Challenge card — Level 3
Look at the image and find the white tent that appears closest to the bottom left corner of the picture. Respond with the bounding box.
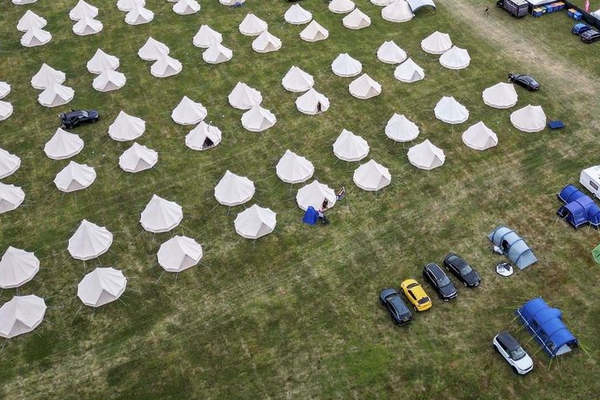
[0,289,57,345]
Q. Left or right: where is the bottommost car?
right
